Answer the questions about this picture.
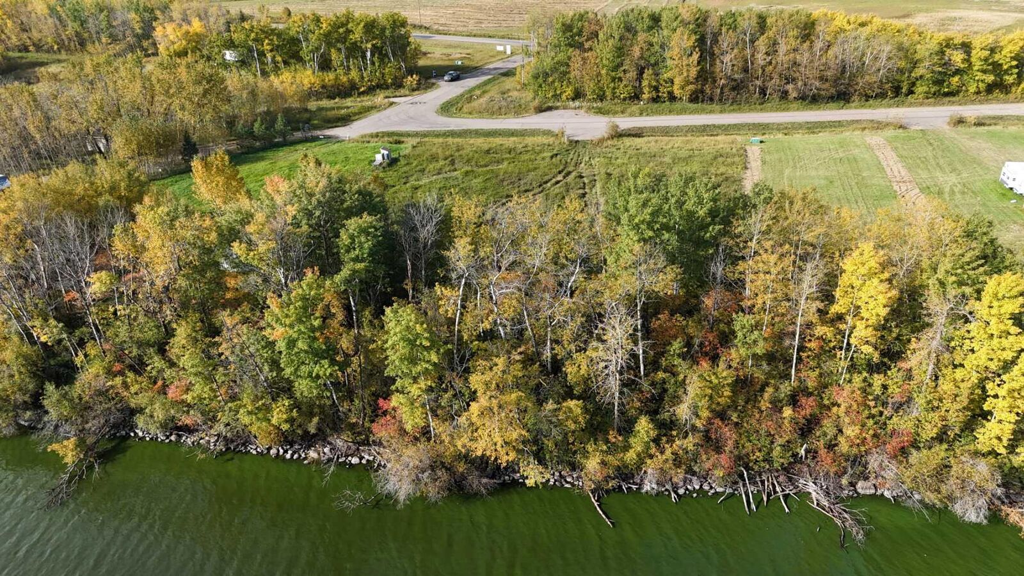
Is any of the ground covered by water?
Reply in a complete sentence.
Yes, the picture does contain water.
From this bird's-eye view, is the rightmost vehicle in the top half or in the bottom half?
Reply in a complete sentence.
Seen from above, the rightmost vehicle lies in the top half of the view.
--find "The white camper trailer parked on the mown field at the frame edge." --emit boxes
[1002,164,1024,197]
